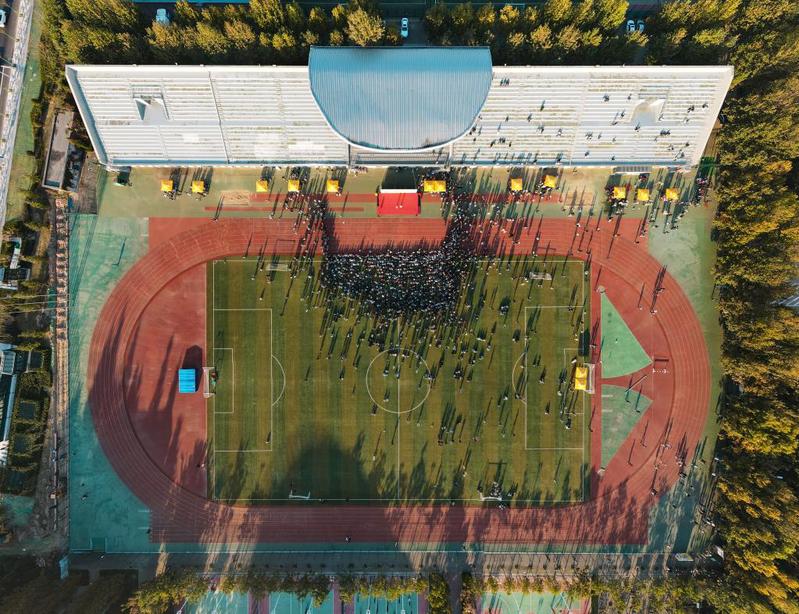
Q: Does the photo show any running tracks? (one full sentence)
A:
Yes, a running track is visible in the scene.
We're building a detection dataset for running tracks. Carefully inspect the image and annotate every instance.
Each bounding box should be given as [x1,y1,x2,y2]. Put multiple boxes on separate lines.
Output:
[87,217,712,544]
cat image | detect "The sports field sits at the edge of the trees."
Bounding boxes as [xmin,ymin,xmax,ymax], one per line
[206,252,591,509]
